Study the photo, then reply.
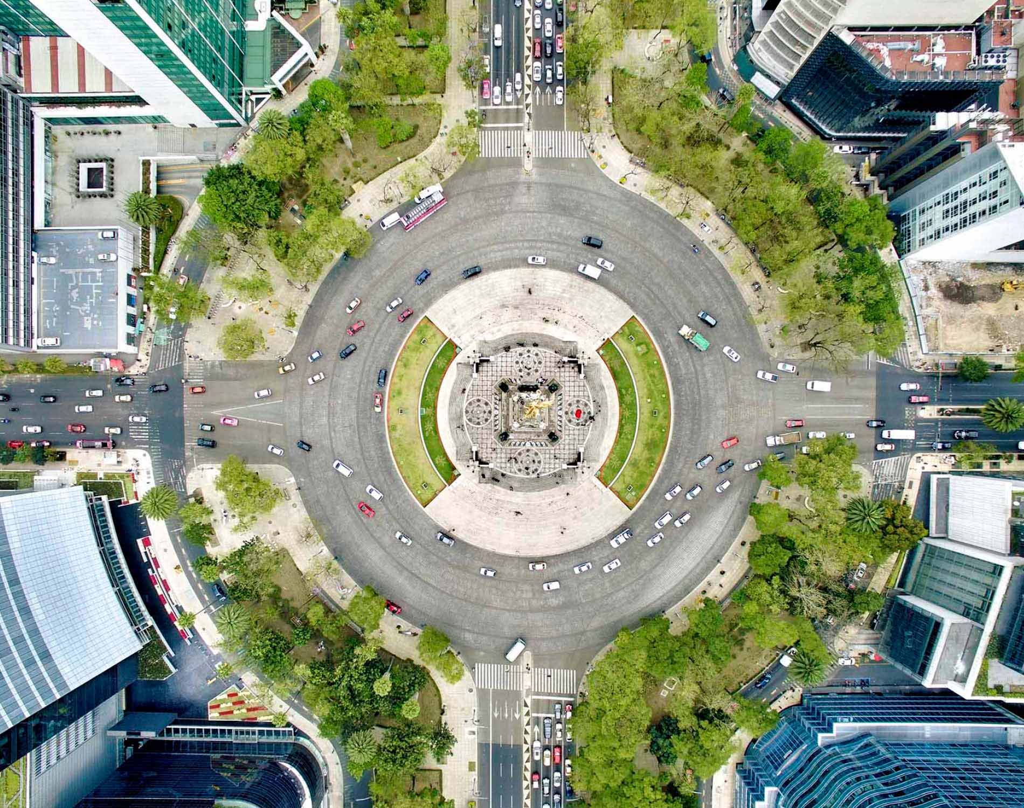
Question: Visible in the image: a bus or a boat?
bus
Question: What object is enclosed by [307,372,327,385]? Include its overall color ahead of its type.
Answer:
white vehicle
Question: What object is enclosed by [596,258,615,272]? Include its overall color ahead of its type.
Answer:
white car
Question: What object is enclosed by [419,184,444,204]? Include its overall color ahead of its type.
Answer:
white vehicle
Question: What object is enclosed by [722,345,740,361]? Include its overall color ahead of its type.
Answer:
white car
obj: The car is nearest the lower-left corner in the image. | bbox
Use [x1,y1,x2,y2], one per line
[209,581,224,600]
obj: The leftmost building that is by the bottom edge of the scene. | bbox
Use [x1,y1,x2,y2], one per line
[0,486,154,808]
